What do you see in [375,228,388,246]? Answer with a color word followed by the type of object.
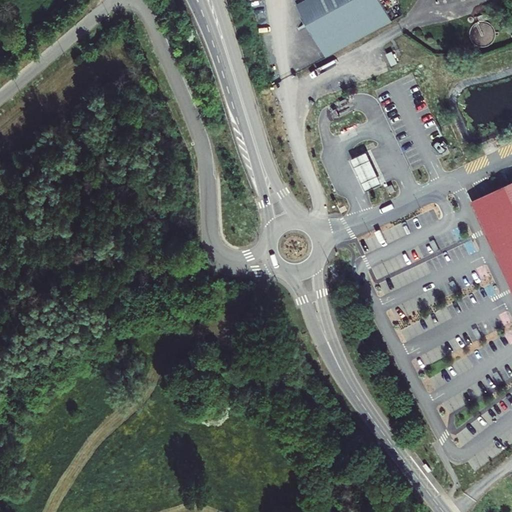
white vehicle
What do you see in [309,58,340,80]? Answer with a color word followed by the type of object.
white truck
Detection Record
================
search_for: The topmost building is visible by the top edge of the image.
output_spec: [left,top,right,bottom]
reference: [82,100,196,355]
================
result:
[292,0,391,58]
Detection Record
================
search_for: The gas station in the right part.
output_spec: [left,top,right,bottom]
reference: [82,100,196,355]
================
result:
[350,153,380,191]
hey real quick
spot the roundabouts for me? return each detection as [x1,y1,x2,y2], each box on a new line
[256,194,358,300]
